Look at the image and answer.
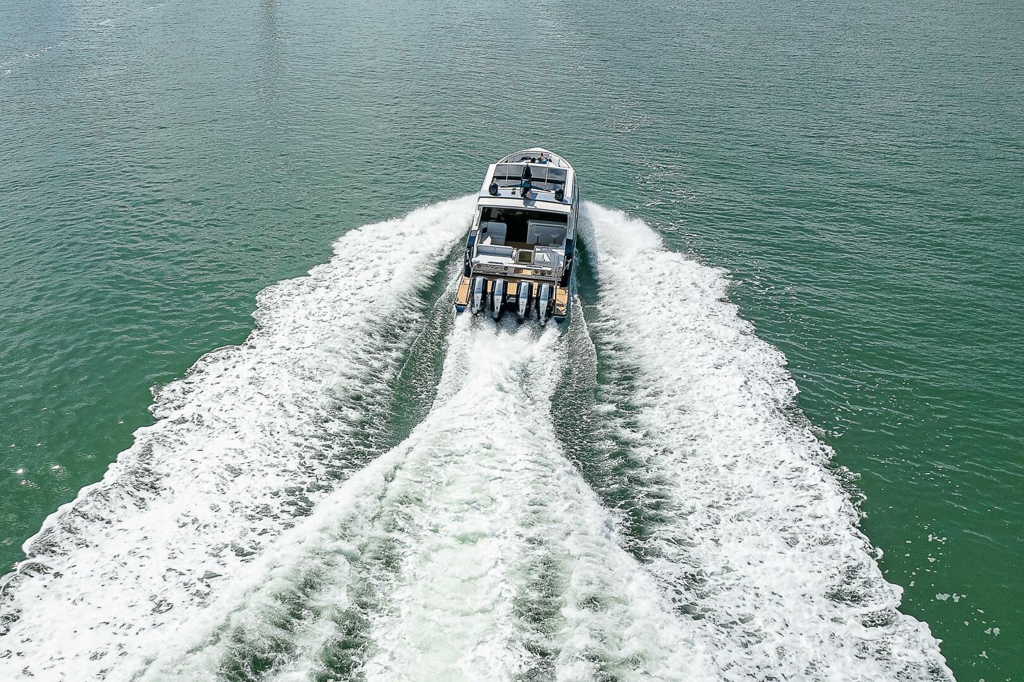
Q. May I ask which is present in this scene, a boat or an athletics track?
boat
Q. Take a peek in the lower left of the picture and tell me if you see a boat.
No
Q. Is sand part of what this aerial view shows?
No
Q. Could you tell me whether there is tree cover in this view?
No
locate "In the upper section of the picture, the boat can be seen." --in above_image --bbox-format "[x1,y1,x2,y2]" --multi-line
[455,146,579,328]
